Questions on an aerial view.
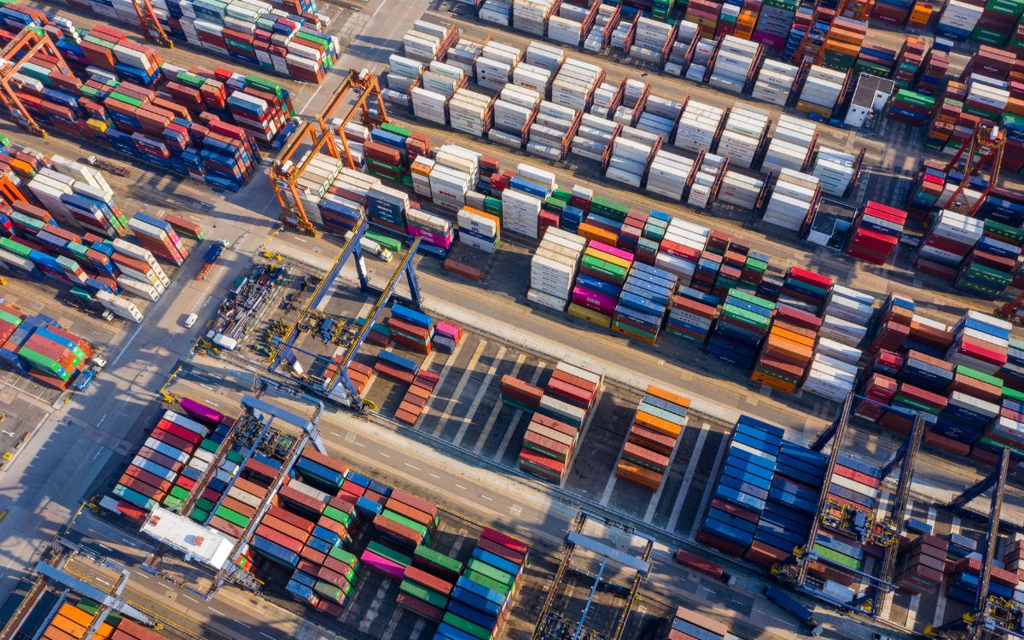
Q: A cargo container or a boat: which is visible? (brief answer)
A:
cargo container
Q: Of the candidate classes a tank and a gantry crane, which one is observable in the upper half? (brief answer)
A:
gantry crane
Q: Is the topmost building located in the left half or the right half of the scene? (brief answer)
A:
right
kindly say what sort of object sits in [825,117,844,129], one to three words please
vehicle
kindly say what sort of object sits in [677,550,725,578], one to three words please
shipping container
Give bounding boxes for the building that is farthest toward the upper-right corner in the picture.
[844,72,895,129]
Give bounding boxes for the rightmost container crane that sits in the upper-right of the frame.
[952,106,1018,217]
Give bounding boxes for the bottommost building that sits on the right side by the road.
[807,198,856,246]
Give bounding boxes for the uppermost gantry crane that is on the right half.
[785,0,839,70]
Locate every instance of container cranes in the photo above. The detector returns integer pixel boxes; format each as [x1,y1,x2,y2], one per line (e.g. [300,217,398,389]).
[264,214,425,414]
[523,508,661,640]
[308,65,386,169]
[130,374,335,604]
[261,119,344,235]
[920,443,1024,640]
[768,388,925,623]
[785,0,839,70]
[0,533,152,640]
[0,22,73,134]
[952,106,1018,217]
